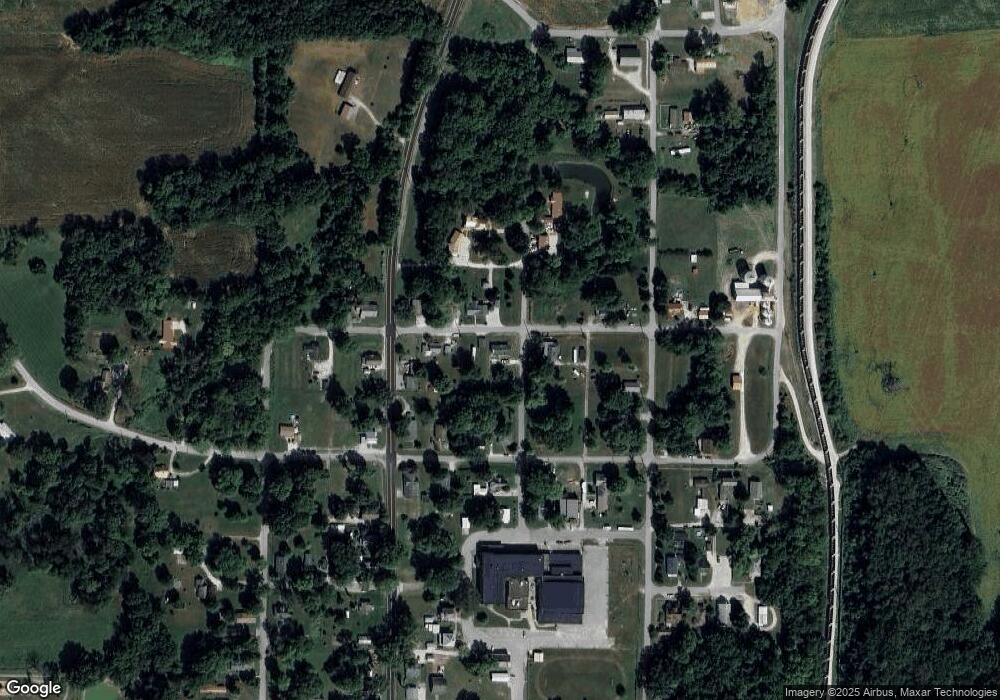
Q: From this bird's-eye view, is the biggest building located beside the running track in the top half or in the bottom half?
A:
bottom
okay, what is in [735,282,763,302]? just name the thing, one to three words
barn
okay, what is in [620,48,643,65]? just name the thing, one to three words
building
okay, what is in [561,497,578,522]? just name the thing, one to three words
house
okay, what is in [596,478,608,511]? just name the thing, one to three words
house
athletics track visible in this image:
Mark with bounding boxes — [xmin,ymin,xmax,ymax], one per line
[538,656,628,700]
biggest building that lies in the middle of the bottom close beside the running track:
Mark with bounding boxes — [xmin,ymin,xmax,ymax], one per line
[478,546,584,625]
